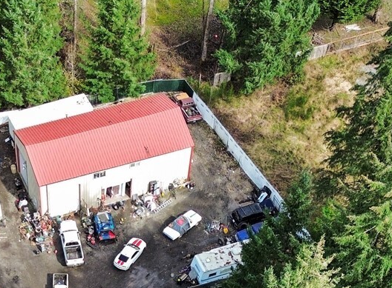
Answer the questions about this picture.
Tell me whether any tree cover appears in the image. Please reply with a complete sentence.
Yes, the picture does contain tree cover.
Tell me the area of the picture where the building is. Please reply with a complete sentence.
Look in the left portion of the view to spot the building.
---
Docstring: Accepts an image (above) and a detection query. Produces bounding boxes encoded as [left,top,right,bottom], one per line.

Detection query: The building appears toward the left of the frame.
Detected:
[9,95,195,219]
